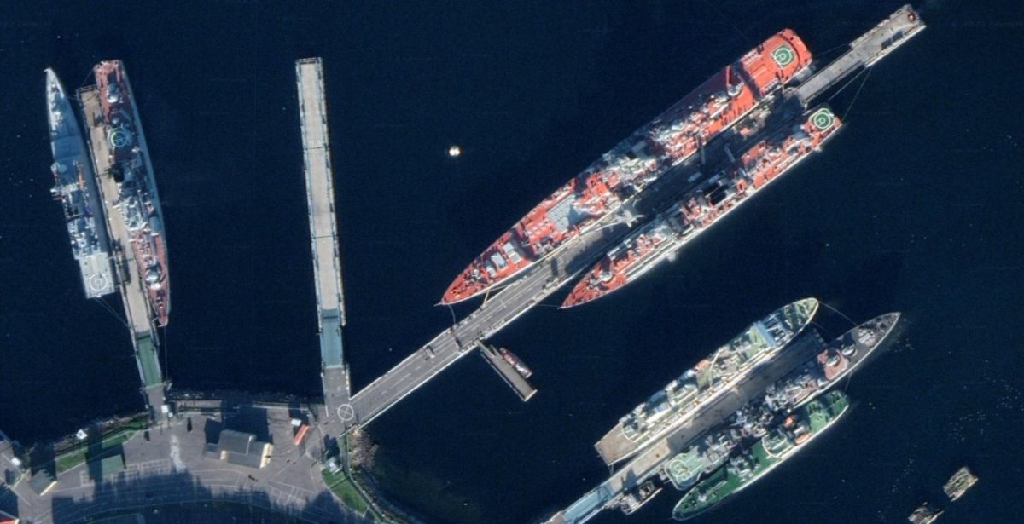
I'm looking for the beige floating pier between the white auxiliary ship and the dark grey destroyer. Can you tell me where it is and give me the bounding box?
[544,329,829,524]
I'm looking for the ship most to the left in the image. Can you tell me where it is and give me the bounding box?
[44,68,119,301]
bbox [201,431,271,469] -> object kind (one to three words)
building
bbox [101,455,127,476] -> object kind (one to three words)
shed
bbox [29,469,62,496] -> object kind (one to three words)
building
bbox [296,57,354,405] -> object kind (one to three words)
pier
